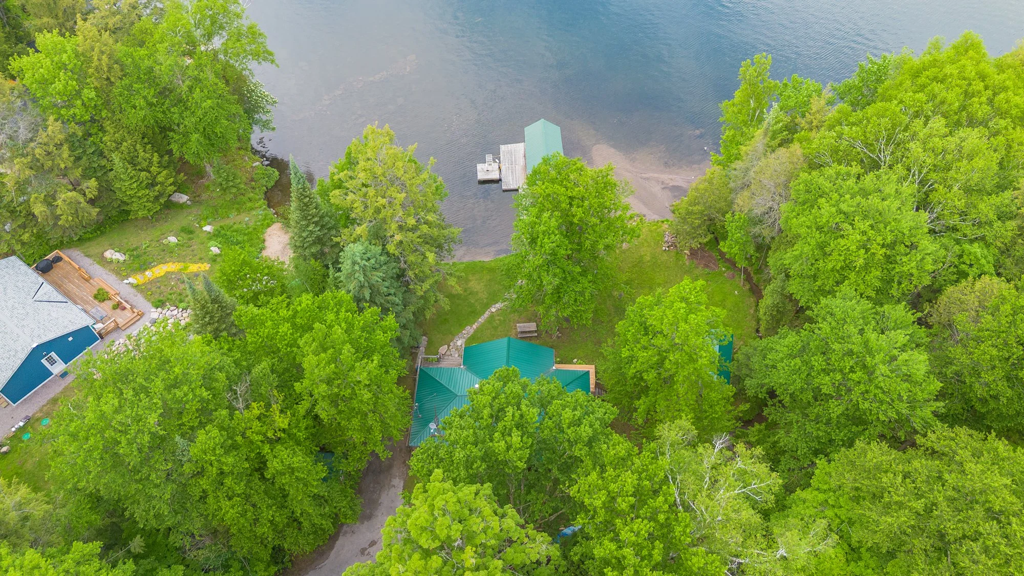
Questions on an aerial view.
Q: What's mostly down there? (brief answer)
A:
trees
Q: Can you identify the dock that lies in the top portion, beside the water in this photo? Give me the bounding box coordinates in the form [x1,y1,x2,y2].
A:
[498,144,525,195]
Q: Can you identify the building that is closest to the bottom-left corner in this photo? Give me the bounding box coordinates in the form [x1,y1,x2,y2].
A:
[0,255,100,405]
